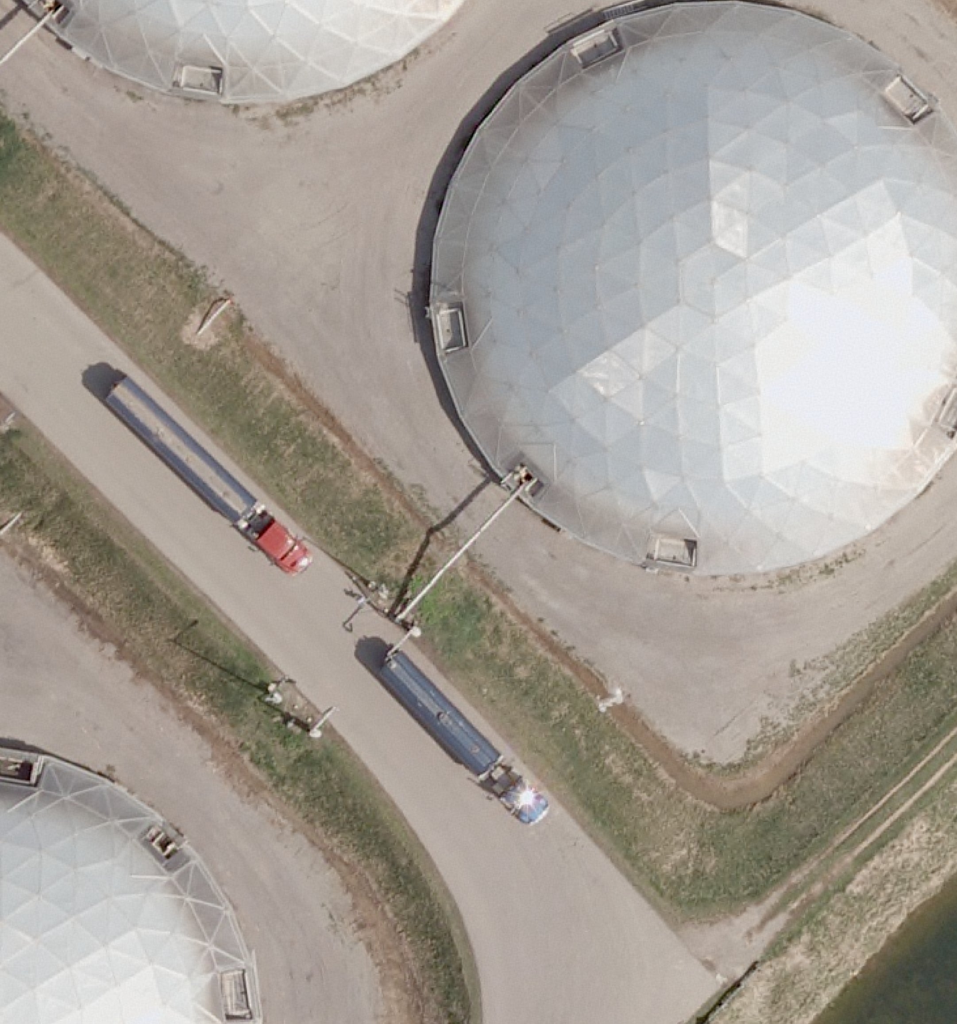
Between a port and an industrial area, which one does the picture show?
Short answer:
industrial area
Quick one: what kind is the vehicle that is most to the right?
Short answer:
truck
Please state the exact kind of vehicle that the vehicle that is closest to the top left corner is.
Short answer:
truck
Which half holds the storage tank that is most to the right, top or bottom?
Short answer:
top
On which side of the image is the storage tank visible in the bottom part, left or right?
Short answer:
left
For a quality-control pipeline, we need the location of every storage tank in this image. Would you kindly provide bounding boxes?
[426,0,957,575]
[0,745,266,1024]
[35,0,472,102]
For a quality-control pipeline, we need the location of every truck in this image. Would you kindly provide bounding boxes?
[381,650,548,825]
[108,378,312,577]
